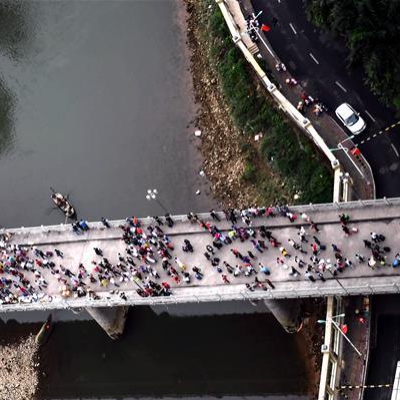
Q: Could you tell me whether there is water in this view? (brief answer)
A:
Yes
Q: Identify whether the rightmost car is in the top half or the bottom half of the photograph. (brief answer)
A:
top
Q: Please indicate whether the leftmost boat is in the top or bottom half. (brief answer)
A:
bottom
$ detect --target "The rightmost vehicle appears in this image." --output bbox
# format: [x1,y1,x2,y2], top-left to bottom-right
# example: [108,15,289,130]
[335,103,369,133]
